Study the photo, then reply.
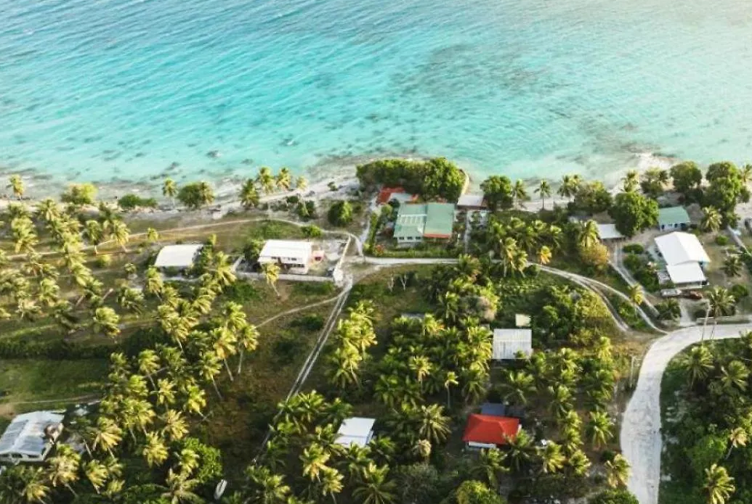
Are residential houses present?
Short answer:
Yes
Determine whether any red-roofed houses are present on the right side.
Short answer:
Yes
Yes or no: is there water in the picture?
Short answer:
Yes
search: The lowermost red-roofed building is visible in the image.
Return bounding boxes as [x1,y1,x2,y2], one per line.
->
[464,414,519,453]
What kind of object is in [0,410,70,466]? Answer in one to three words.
house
